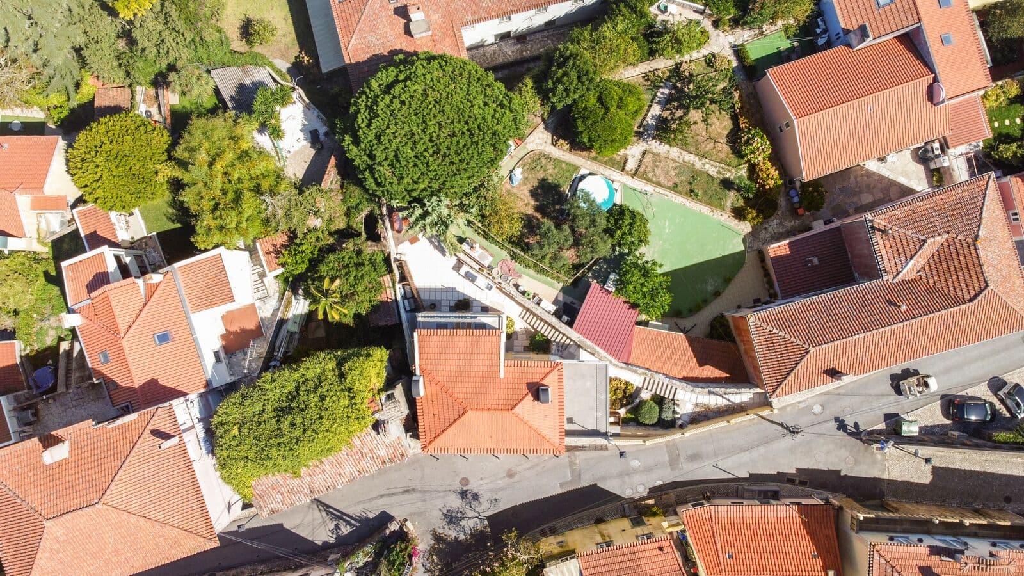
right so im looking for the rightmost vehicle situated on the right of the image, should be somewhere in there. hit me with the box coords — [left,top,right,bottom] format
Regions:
[996,375,1024,419]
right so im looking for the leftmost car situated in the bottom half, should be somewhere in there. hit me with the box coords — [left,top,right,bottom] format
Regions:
[898,373,937,397]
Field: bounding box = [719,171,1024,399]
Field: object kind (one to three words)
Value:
house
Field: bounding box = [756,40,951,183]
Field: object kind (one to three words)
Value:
house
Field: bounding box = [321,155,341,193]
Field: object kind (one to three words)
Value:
shed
